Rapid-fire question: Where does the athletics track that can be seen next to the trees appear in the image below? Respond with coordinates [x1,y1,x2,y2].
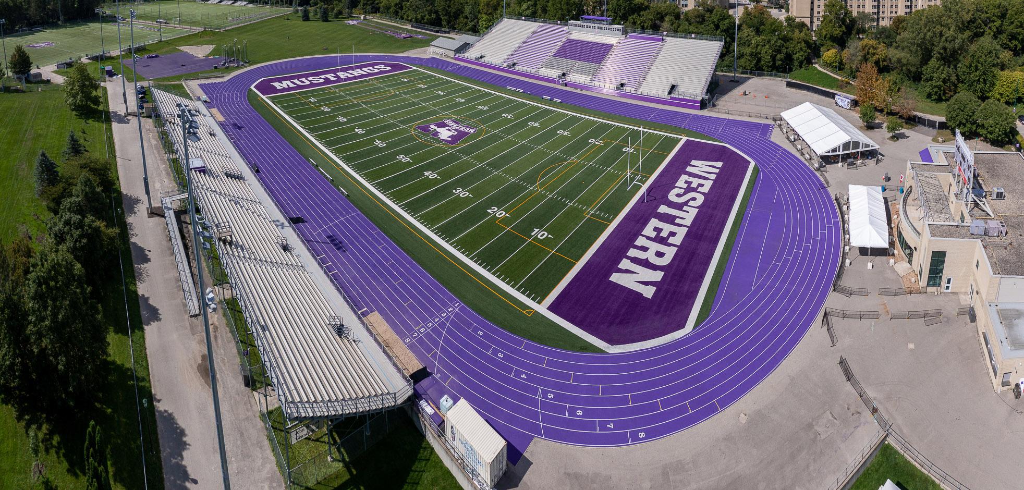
[217,54,842,445]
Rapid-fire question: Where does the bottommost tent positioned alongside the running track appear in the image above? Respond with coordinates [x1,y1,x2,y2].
[845,177,893,262]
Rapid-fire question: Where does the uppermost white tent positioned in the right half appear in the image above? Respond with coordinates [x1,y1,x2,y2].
[779,102,880,169]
